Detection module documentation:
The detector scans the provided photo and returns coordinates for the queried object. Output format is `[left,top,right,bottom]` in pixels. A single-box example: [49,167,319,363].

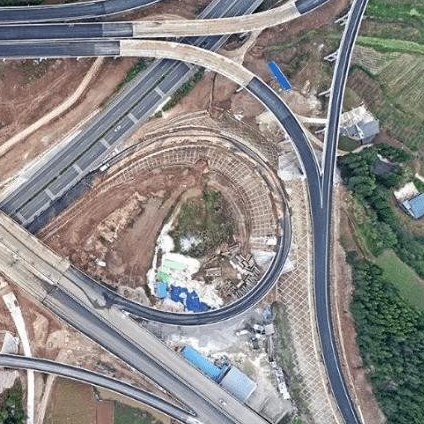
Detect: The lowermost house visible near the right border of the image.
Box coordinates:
[401,193,424,218]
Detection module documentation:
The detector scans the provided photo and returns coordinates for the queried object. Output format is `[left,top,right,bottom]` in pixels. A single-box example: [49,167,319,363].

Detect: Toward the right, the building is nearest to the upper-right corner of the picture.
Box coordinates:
[345,118,378,143]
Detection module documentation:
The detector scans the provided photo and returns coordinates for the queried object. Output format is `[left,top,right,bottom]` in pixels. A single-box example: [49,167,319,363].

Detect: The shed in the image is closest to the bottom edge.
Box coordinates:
[218,367,256,400]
